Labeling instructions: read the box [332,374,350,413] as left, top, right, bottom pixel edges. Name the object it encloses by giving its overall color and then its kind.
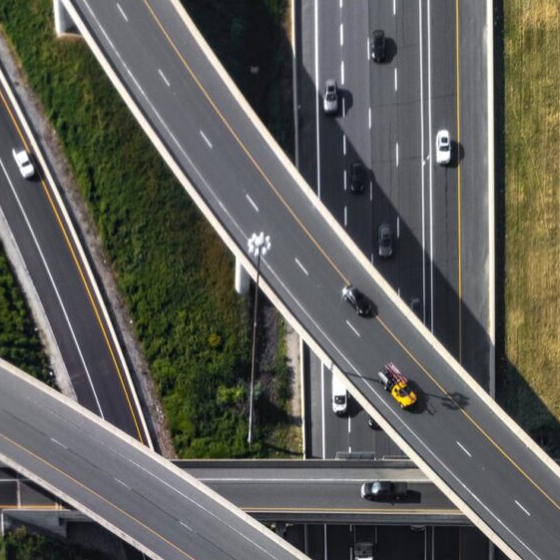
white vehicle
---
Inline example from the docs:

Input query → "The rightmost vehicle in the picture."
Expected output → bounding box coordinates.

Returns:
[436,130,452,164]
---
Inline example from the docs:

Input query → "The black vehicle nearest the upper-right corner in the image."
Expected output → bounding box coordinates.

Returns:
[370,29,387,62]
